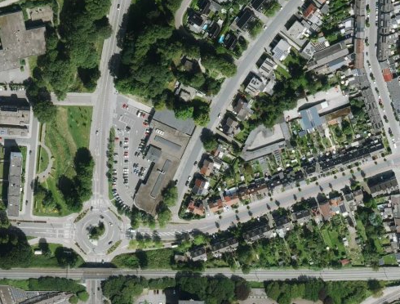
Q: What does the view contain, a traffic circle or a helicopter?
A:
traffic circle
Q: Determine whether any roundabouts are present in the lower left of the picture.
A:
Yes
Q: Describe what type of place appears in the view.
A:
residential area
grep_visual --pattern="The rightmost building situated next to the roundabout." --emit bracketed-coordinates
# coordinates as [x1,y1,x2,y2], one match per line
[135,121,193,213]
